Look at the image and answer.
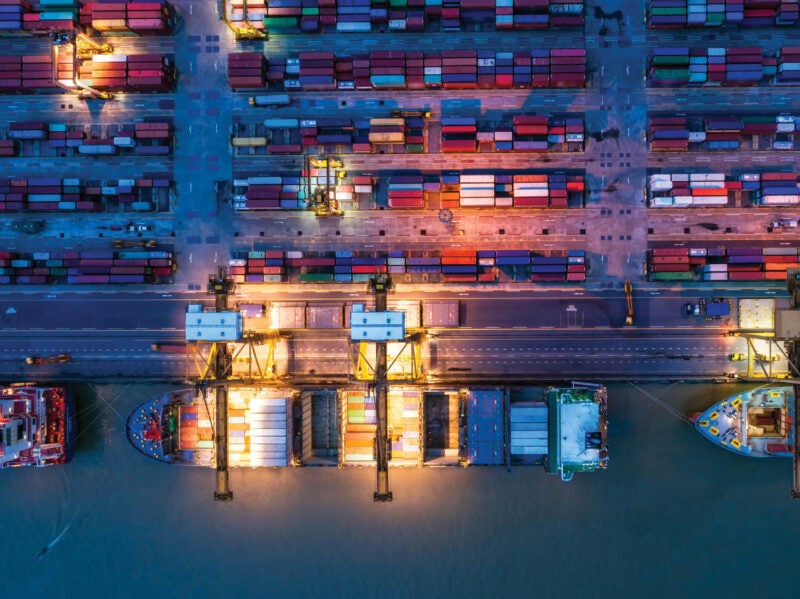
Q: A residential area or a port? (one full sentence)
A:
The picture captures a port.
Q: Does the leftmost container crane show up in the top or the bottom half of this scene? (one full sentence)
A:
The top half of the photo is where the leftmost container crane is.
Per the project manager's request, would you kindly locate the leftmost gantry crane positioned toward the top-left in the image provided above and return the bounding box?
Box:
[52,28,109,99]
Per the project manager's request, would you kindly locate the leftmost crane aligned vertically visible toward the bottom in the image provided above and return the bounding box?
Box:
[186,262,291,501]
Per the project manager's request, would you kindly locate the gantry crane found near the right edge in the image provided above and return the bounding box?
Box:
[730,258,800,498]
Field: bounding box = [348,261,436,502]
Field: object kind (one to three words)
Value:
container crane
